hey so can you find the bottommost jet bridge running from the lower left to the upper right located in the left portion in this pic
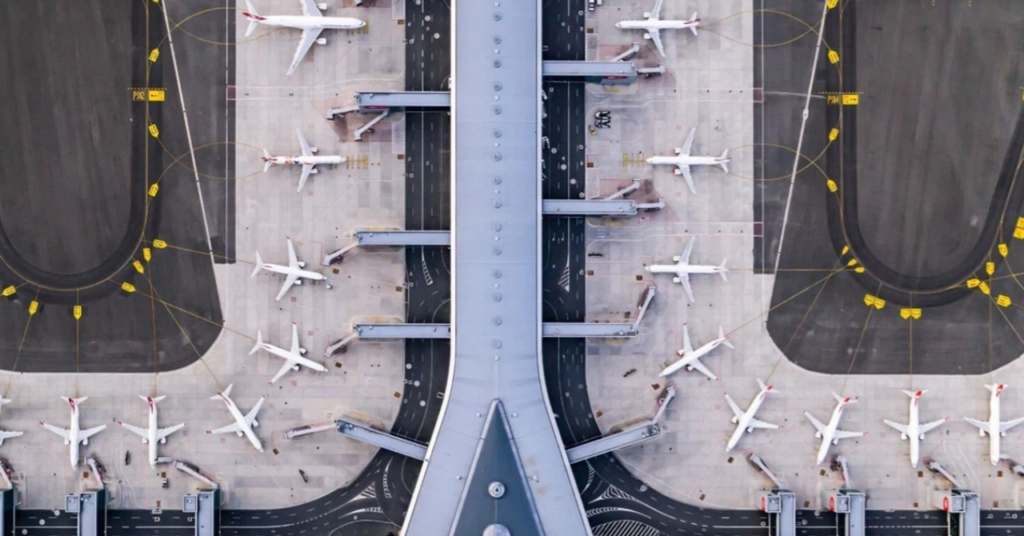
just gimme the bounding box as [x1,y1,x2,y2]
[325,332,356,357]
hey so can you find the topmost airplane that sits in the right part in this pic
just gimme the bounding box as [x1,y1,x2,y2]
[615,0,699,56]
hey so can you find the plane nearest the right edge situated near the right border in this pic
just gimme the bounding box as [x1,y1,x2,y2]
[962,382,1024,464]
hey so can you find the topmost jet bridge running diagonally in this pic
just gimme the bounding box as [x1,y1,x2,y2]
[612,42,639,61]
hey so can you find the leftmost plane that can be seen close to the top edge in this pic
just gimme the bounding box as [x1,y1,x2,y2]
[241,0,366,75]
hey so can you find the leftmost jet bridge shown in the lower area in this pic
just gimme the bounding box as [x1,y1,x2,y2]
[0,456,20,489]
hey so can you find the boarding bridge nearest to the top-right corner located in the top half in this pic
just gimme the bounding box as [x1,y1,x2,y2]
[636,63,666,81]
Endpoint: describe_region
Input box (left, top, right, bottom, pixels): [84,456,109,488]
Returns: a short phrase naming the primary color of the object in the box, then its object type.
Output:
white jet bridge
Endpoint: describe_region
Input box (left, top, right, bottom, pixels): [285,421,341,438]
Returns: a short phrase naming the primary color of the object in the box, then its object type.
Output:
white jet bridge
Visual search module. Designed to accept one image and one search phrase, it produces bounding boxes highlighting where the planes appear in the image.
[42,395,108,468]
[659,326,731,383]
[804,391,866,464]
[962,382,1024,464]
[883,394,950,467]
[241,0,366,75]
[724,383,779,450]
[646,126,731,193]
[252,237,328,301]
[615,0,699,56]
[645,236,728,302]
[262,126,346,193]
[119,396,185,468]
[210,383,266,451]
[254,325,329,386]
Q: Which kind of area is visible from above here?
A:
airport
